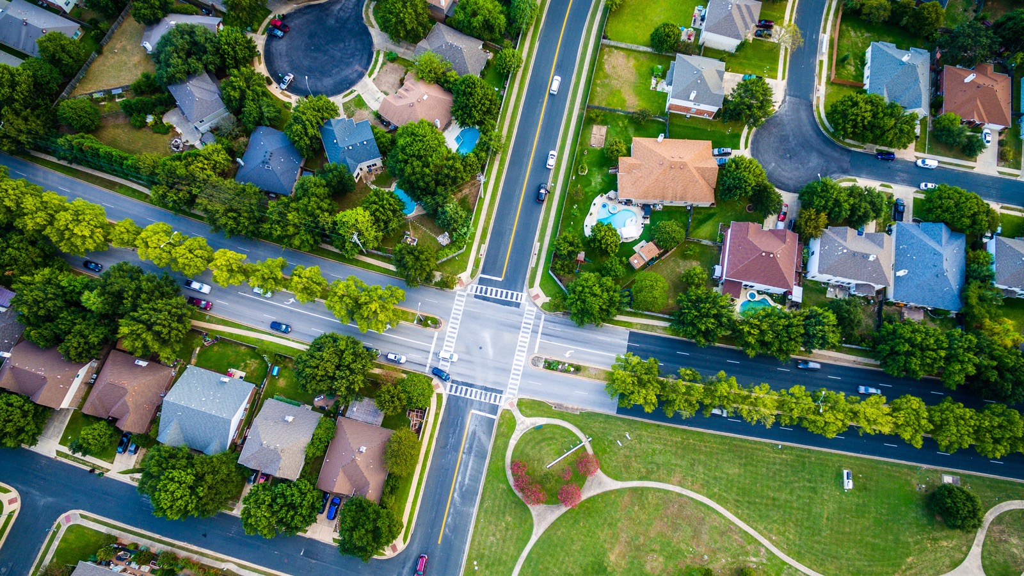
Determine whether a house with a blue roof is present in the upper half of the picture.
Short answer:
Yes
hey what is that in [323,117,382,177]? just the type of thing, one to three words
house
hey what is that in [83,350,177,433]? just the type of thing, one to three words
house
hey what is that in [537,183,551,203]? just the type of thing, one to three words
car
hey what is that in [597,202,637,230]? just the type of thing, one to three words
swimming pool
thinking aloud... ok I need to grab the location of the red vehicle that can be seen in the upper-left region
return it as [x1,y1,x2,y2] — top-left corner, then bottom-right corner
[268,17,291,32]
